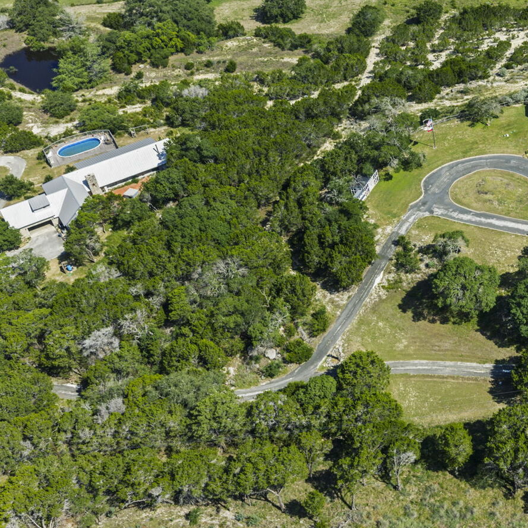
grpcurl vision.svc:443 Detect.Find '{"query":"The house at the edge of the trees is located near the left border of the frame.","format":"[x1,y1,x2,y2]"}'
[0,135,176,237]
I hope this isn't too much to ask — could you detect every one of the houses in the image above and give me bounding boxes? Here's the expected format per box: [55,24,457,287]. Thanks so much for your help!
[346,166,379,198]
[0,135,176,237]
